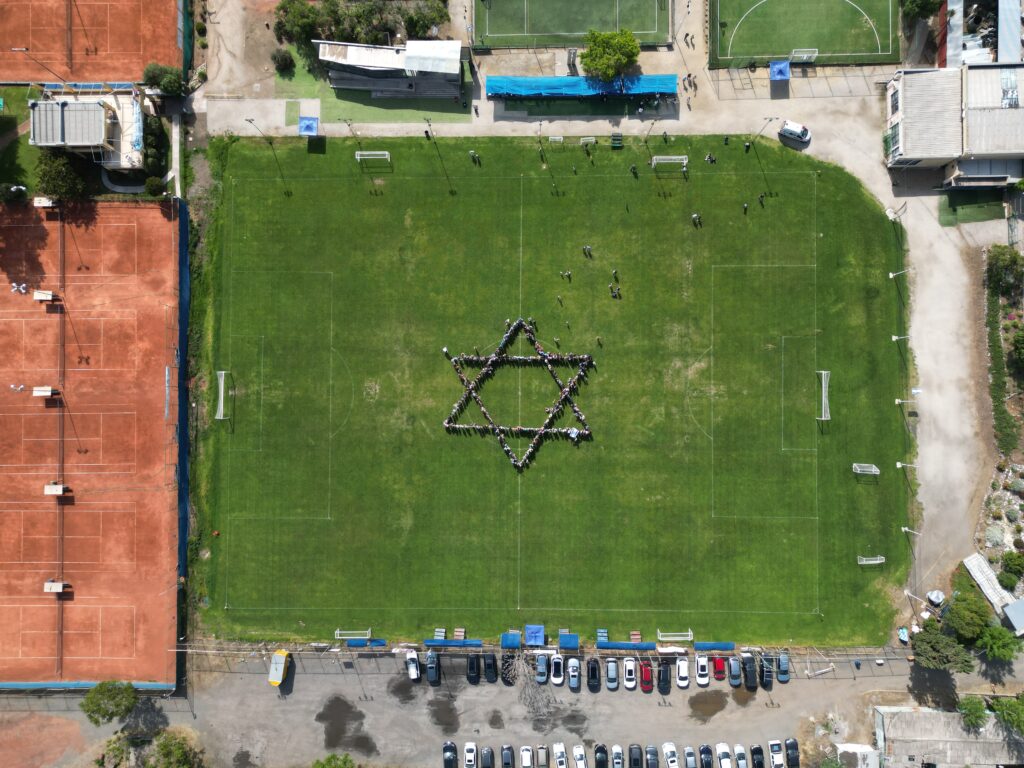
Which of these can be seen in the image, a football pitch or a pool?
football pitch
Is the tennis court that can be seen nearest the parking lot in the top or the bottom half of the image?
bottom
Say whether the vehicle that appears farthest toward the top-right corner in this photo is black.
No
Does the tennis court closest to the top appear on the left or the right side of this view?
left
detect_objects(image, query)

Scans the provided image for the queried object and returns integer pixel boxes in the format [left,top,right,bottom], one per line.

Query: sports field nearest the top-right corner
[710,0,899,67]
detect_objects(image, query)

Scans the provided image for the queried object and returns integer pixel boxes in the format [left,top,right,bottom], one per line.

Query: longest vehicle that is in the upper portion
[780,117,814,142]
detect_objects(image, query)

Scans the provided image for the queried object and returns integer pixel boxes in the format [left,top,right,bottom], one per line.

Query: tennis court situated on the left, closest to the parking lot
[0,581,179,685]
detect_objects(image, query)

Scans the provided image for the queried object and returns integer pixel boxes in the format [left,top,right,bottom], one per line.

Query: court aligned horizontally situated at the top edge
[0,0,190,86]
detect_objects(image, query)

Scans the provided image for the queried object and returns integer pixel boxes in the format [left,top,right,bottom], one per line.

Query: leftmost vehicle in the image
[265,650,288,689]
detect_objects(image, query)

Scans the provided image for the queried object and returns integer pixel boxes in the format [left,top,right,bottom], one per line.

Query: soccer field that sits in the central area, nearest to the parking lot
[199,133,915,645]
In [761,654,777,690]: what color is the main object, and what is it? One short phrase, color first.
black car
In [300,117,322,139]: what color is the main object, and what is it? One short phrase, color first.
blue gazebo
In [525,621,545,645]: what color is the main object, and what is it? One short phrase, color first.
blue gazebo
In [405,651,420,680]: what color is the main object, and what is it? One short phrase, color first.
white car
